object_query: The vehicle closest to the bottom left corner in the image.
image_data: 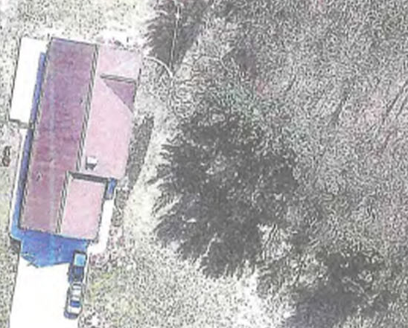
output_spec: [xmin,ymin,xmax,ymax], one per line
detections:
[66,281,83,319]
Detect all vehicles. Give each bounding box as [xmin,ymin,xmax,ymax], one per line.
[69,251,86,283]
[66,281,83,319]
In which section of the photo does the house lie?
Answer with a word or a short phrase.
left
